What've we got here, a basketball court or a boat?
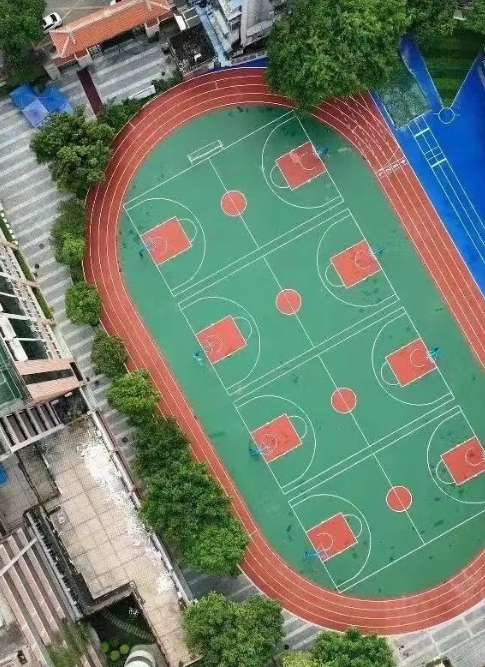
basketball court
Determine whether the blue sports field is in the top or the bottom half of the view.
top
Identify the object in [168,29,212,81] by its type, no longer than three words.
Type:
shed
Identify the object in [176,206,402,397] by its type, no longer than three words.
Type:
basketball court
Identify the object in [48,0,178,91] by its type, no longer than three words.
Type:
building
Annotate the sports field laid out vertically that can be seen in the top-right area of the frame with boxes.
[365,2,485,298]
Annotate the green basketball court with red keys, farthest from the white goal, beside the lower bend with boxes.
[286,404,485,594]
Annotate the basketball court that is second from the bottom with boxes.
[231,305,457,496]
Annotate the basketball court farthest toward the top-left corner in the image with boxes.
[121,108,347,298]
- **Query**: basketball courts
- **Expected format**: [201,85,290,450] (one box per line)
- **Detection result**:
[286,404,485,594]
[121,108,347,298]
[176,206,402,397]
[231,305,457,496]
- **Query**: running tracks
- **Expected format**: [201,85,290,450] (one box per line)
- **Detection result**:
[79,48,485,636]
